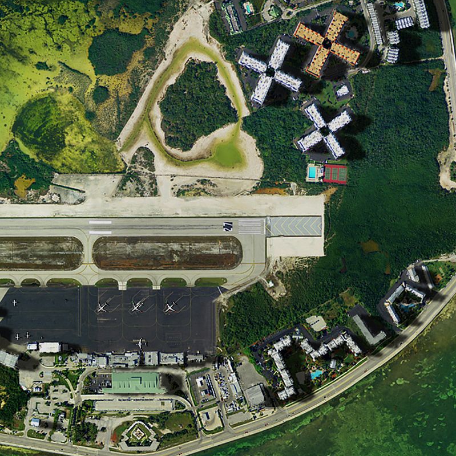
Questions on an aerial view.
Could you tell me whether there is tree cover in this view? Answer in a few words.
Yes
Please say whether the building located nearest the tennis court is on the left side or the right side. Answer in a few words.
right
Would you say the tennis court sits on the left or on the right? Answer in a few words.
right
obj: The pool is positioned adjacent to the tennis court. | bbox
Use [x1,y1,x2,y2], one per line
[306,164,322,182]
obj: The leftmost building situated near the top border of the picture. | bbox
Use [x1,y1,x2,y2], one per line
[225,3,244,34]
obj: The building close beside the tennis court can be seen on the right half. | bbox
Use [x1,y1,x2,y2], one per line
[300,104,353,157]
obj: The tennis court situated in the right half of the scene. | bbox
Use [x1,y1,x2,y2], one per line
[323,164,347,185]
